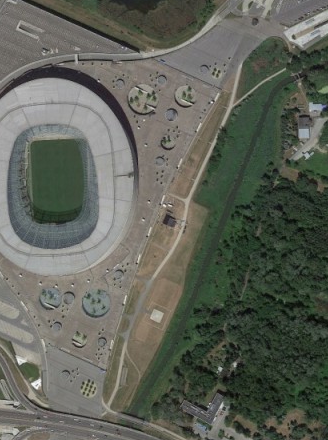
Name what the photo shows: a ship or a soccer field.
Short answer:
soccer field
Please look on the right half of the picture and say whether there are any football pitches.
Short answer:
No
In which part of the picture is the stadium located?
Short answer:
left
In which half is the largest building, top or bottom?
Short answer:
bottom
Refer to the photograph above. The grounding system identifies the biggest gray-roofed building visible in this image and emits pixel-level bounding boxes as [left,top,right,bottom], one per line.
[180,392,224,425]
